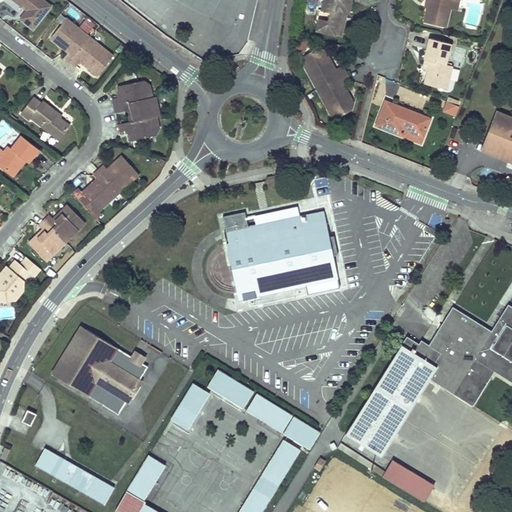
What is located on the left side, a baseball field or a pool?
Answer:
pool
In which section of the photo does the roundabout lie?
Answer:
top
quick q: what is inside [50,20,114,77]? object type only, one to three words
house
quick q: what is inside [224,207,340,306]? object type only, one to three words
building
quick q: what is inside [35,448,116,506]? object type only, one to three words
shed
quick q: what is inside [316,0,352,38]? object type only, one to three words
house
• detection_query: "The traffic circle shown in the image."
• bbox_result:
[186,58,310,171]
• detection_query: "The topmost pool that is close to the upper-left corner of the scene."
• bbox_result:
[62,4,85,25]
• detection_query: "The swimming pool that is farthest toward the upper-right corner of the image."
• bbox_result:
[460,0,484,30]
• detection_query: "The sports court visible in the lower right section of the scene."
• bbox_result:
[387,384,500,500]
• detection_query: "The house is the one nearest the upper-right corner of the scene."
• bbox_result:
[424,0,462,28]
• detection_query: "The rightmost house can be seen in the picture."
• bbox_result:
[482,110,512,162]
